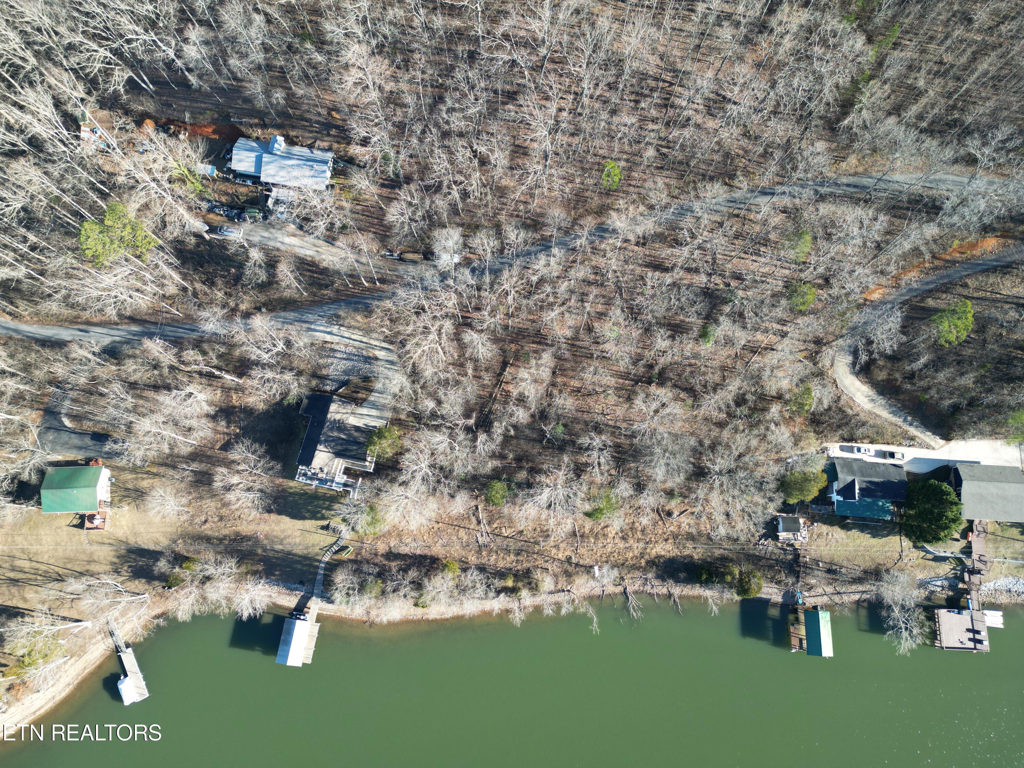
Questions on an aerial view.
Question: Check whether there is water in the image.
Yes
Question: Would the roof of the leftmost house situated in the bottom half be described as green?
Yes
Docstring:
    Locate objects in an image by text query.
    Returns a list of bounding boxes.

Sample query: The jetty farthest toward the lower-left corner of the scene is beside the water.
[103,616,151,703]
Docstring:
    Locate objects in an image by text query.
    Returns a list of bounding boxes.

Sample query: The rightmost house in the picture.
[949,463,1024,523]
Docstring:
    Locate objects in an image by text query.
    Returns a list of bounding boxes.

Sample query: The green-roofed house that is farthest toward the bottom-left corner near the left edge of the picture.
[40,457,113,513]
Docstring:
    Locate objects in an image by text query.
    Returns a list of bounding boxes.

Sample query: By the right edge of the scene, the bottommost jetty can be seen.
[934,609,992,653]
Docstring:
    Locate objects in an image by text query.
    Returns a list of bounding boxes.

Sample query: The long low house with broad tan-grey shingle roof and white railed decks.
[297,393,371,472]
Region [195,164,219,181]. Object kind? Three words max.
shed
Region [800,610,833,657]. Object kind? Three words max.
building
